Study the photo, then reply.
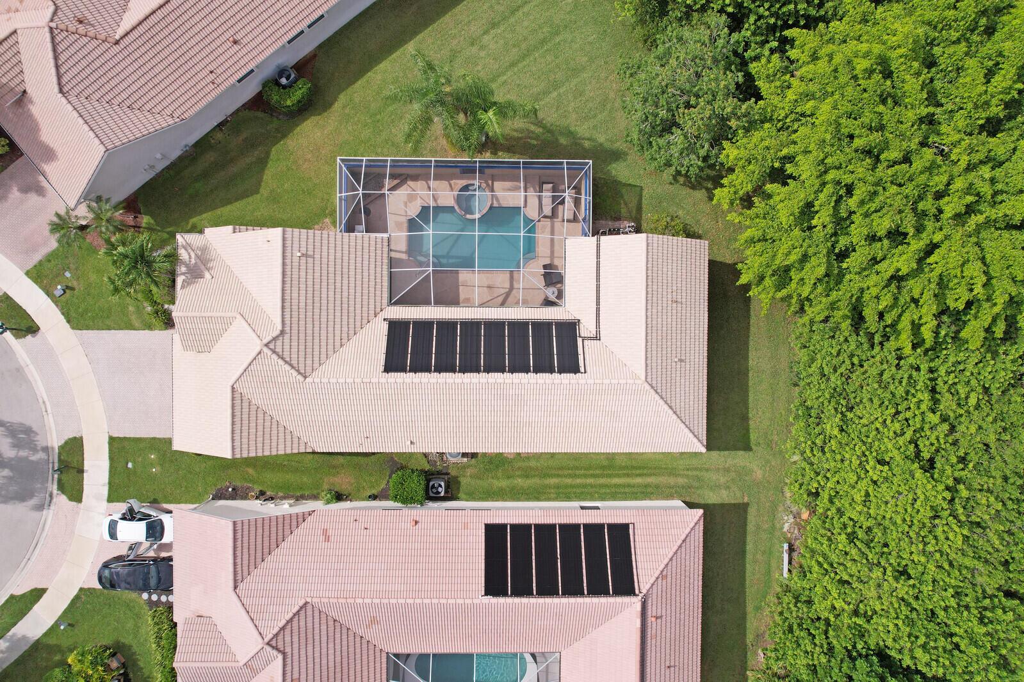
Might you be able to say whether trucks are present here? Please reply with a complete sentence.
No, I can't see a single truck in this photo.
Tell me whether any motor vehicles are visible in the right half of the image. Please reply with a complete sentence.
No, no motor vehicle appears in the right half of the image.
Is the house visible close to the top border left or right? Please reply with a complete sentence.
The house visible close to the top border sits on the left side.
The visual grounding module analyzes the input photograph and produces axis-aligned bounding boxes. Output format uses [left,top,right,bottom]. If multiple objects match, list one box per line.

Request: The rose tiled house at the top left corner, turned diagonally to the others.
[0,0,366,209]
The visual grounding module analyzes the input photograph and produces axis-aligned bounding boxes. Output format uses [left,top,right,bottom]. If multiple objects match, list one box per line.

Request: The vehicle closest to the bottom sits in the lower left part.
[96,550,171,590]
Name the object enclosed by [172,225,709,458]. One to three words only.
house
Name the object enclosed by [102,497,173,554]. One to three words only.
car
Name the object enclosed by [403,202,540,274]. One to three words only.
swimming pool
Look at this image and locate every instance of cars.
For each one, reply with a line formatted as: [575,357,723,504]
[102,497,173,554]
[96,550,171,590]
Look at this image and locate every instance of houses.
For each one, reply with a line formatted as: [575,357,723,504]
[172,225,709,458]
[170,502,706,682]
[0,0,366,209]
